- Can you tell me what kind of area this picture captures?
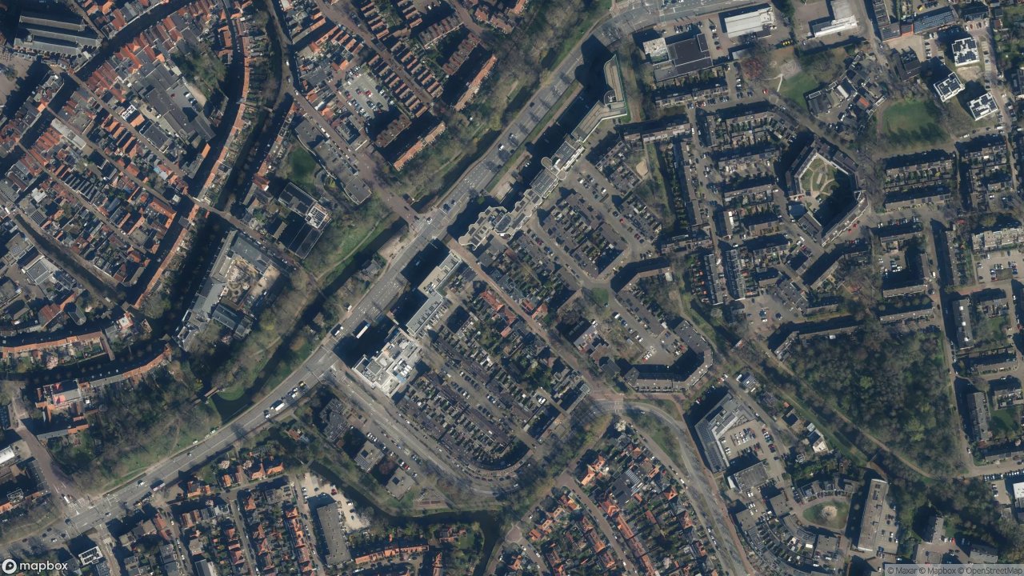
residential area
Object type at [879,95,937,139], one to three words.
sports field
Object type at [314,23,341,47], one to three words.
house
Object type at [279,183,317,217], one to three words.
building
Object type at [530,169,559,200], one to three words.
building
